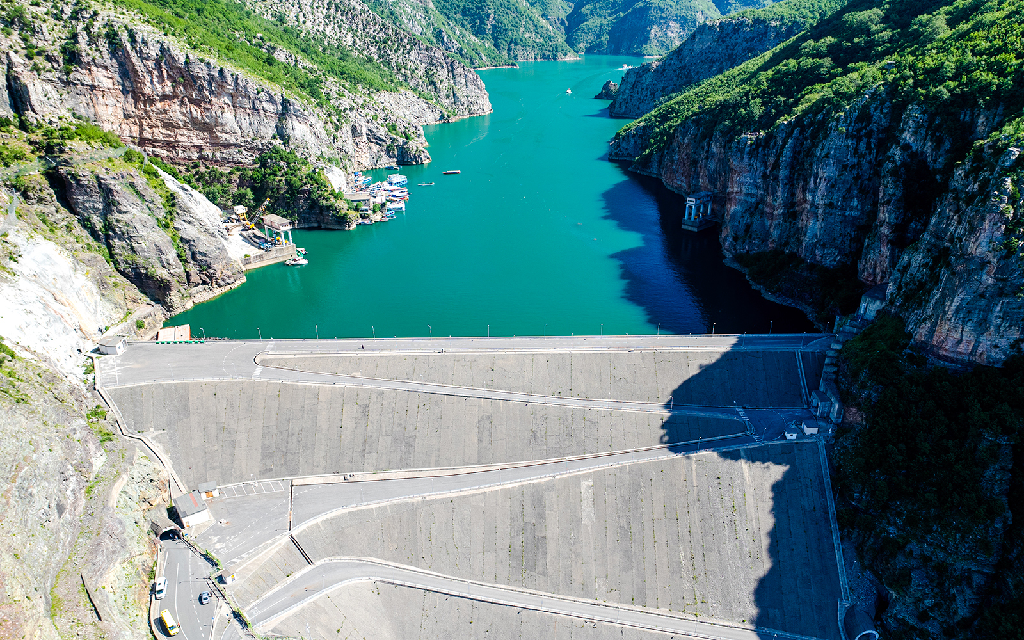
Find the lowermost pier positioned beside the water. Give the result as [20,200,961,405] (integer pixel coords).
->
[157,323,191,339]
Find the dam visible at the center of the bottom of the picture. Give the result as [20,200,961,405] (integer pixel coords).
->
[98,330,860,640]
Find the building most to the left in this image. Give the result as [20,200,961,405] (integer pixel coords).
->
[94,335,126,355]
